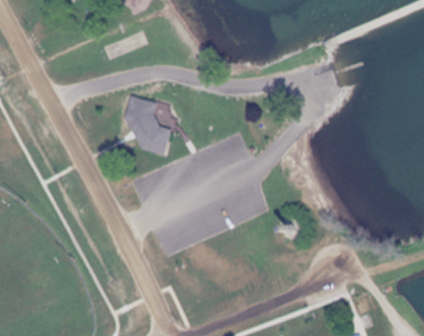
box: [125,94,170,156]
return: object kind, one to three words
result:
house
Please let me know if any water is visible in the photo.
Yes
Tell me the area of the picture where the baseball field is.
bottom left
